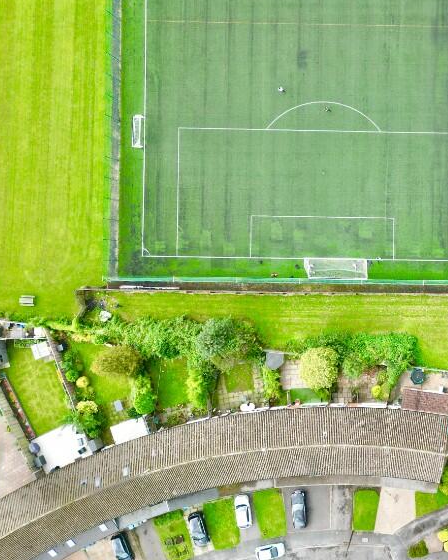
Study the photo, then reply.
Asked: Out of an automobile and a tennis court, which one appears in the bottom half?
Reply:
automobile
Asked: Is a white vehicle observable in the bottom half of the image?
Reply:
Yes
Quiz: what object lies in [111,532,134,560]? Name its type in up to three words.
car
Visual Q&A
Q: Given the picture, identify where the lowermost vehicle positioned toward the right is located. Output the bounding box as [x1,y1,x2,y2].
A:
[254,541,286,560]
